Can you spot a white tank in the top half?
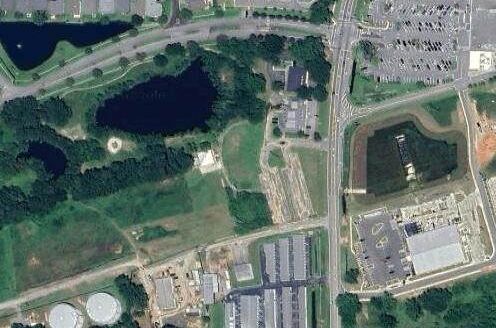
No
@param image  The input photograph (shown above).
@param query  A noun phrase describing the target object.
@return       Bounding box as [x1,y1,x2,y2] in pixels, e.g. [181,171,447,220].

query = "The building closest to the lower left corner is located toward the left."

[156,277,176,309]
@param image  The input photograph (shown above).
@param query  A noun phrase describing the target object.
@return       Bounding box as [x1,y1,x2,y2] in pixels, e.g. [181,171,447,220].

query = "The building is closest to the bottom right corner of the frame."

[406,225,468,274]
